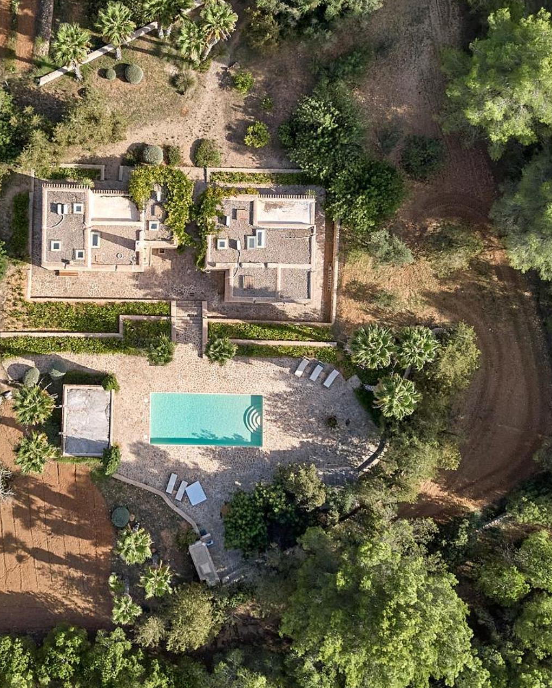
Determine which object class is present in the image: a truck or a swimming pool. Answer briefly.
swimming pool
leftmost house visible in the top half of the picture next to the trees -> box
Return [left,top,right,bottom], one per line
[42,183,178,274]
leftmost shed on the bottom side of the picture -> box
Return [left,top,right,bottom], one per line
[57,384,113,455]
